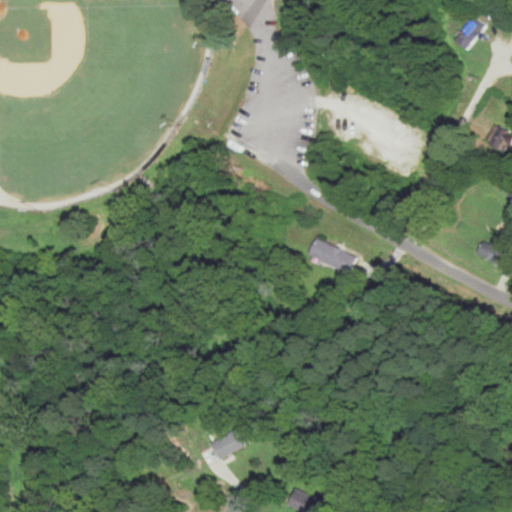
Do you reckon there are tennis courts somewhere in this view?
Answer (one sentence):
No, there appears to be no tennis court in this shot.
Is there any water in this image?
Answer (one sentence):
No, no water is visible.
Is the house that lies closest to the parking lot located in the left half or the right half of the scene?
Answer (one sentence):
You can find the house that lies closest to the parking lot on the right side of the picture.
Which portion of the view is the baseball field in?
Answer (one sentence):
The baseball field appears toward the top left of the photo.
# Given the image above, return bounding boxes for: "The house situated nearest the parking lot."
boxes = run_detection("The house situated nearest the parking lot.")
[310,237,358,272]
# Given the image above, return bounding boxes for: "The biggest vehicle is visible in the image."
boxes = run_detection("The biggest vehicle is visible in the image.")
[226,140,246,154]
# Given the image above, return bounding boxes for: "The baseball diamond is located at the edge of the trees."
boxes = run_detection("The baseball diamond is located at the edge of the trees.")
[0,0,208,202]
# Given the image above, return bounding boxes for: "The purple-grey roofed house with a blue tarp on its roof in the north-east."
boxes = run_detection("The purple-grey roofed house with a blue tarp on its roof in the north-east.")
[452,16,492,53]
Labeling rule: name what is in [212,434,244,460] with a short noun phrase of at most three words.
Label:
house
